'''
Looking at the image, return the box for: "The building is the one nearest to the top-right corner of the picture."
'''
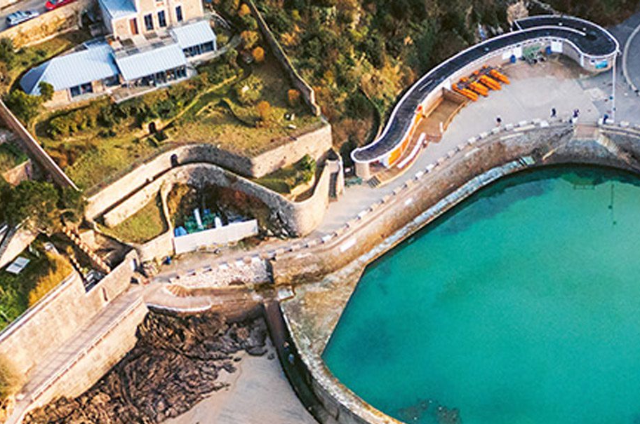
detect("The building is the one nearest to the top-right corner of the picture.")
[350,13,619,181]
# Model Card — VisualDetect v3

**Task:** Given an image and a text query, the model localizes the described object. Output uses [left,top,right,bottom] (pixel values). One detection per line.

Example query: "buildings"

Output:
[350,13,619,181]
[19,0,217,113]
